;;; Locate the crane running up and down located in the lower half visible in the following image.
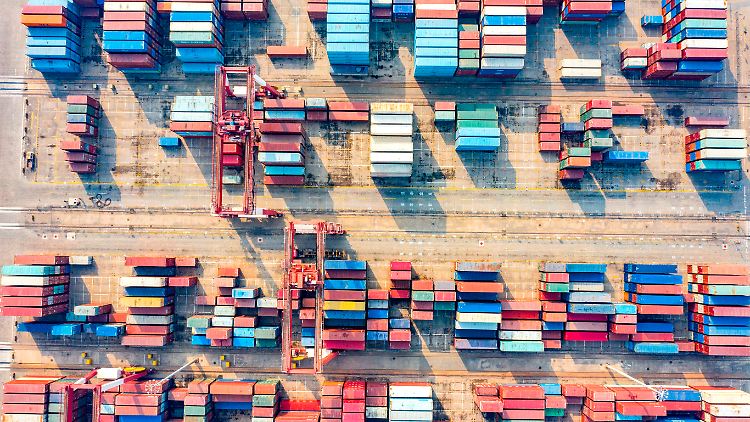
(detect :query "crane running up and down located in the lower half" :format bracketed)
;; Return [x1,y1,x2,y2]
[282,224,352,376]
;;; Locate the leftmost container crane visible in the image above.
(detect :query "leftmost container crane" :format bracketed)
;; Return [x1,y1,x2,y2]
[65,361,162,422]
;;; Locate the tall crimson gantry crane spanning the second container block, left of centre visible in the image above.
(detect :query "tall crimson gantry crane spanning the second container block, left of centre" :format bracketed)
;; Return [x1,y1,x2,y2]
[211,65,292,220]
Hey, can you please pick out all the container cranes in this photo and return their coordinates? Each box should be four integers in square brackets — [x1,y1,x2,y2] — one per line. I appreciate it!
[211,65,292,220]
[65,361,162,422]
[282,224,352,376]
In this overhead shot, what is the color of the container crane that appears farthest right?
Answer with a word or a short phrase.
red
